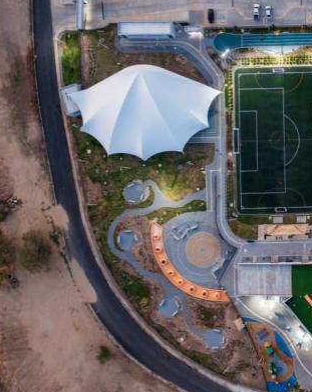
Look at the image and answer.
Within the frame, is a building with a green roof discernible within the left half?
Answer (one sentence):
No, within the left half there is no building with a green roof.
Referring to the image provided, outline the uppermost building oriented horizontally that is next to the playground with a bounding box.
[235,262,312,296]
